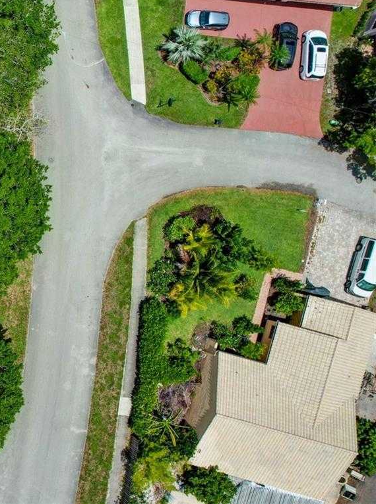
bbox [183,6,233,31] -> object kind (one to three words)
car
